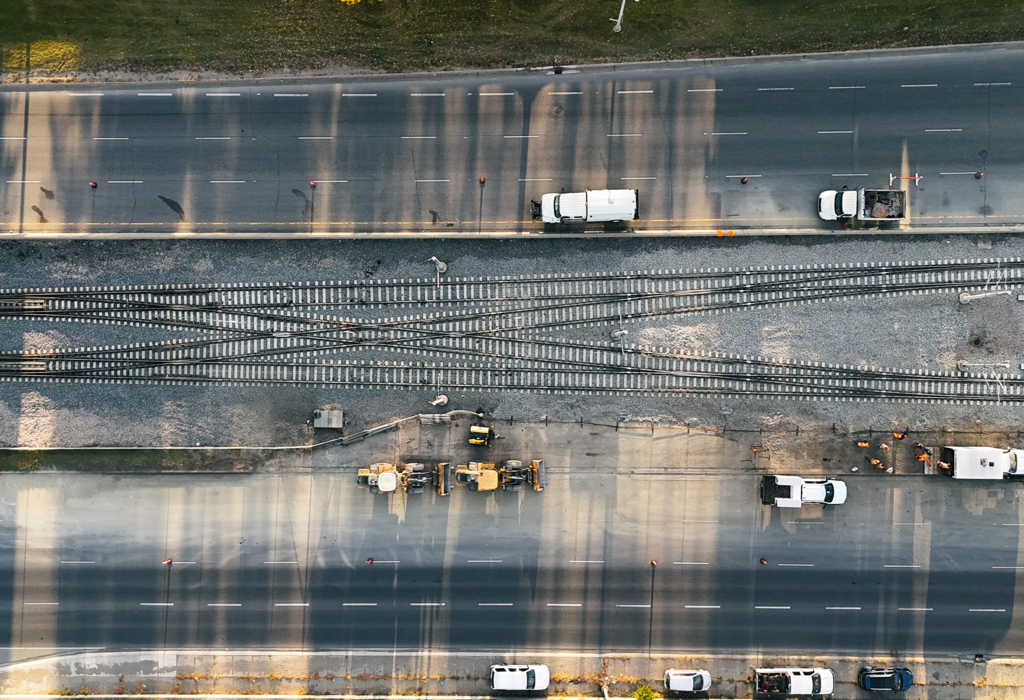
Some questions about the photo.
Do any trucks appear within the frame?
Yes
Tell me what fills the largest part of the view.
paved ground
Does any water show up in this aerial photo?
No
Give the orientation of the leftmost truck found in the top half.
from side to side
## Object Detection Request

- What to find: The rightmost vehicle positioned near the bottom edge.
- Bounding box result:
[856,664,912,693]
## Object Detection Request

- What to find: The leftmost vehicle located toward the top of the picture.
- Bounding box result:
[529,189,641,221]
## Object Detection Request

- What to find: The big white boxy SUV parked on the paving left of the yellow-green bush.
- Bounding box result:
[490,660,550,691]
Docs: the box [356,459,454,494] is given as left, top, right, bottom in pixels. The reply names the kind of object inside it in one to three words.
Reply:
work vehicle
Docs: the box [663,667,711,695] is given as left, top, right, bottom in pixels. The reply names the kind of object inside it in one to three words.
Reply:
car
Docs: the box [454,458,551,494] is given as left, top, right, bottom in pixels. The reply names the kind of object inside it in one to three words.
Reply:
work vehicle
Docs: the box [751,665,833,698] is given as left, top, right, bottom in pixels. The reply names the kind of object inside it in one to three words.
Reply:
truck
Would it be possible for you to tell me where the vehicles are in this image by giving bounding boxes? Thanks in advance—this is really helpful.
[759,476,847,506]
[751,665,833,698]
[529,189,641,221]
[856,664,912,693]
[454,458,551,494]
[490,660,550,691]
[922,445,1024,479]
[815,189,906,220]
[356,459,454,494]
[663,667,711,695]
